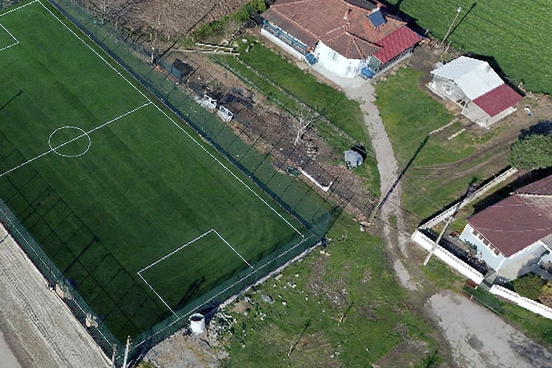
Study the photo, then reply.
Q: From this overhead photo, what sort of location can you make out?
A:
sports ground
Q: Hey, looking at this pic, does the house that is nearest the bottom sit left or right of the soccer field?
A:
on its right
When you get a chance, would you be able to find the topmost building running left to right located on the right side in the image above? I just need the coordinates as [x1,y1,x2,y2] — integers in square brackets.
[258,0,421,80]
